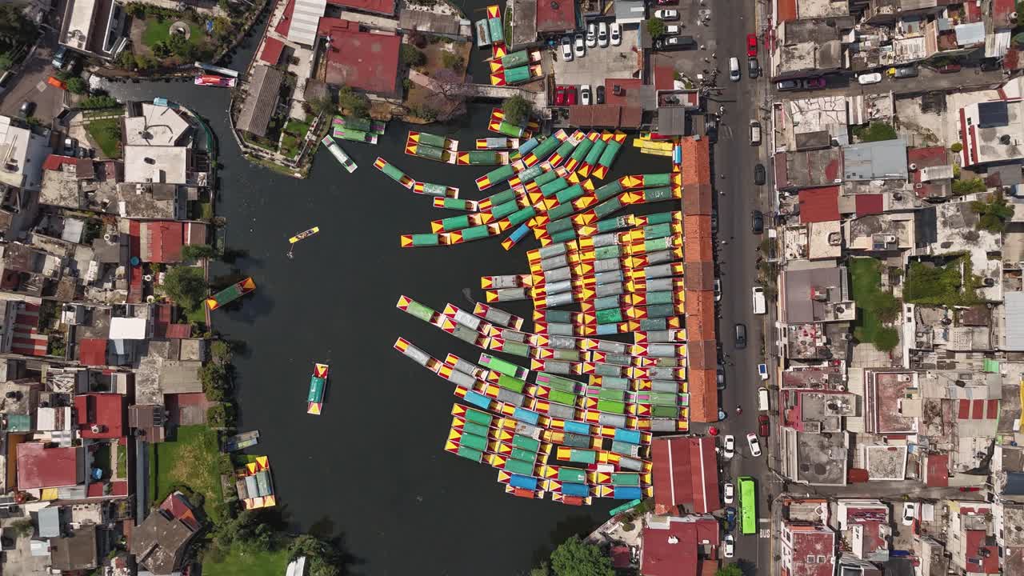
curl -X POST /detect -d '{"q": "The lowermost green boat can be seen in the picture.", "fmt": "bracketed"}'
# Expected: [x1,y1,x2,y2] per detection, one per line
[609,501,638,518]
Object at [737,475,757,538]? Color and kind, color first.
green bus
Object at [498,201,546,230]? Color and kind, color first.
green boat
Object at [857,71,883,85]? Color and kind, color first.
white car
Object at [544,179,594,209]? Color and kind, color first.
green boat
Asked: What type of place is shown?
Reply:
residential area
